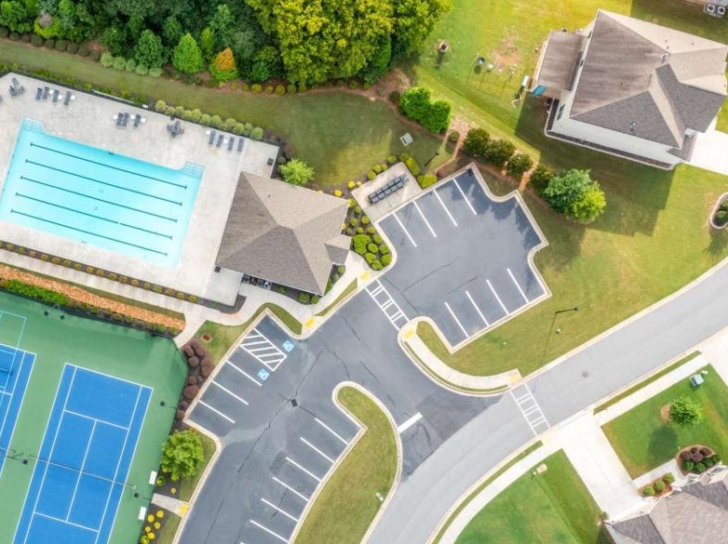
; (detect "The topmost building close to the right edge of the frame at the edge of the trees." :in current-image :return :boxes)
[526,10,728,169]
